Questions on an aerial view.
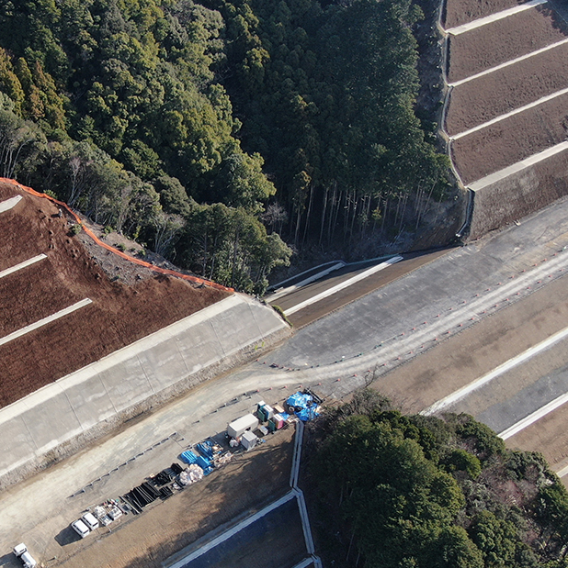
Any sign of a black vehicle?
No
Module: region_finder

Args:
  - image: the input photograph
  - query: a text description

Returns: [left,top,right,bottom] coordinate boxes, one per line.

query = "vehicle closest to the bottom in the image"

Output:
[10,540,37,568]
